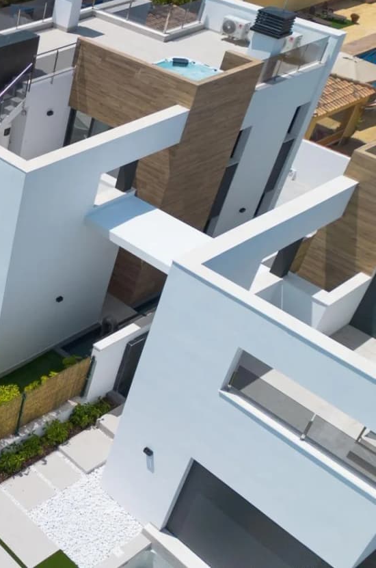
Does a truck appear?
No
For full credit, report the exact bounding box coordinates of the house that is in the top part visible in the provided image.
[0,0,356,380]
